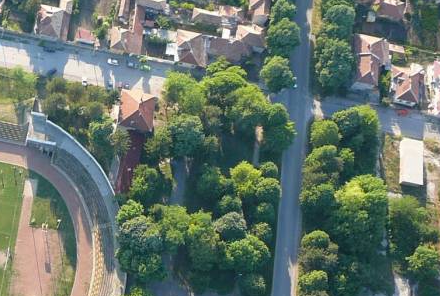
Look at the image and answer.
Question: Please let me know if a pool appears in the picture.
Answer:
No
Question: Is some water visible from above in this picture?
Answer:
No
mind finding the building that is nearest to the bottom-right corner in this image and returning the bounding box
[395,138,423,189]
